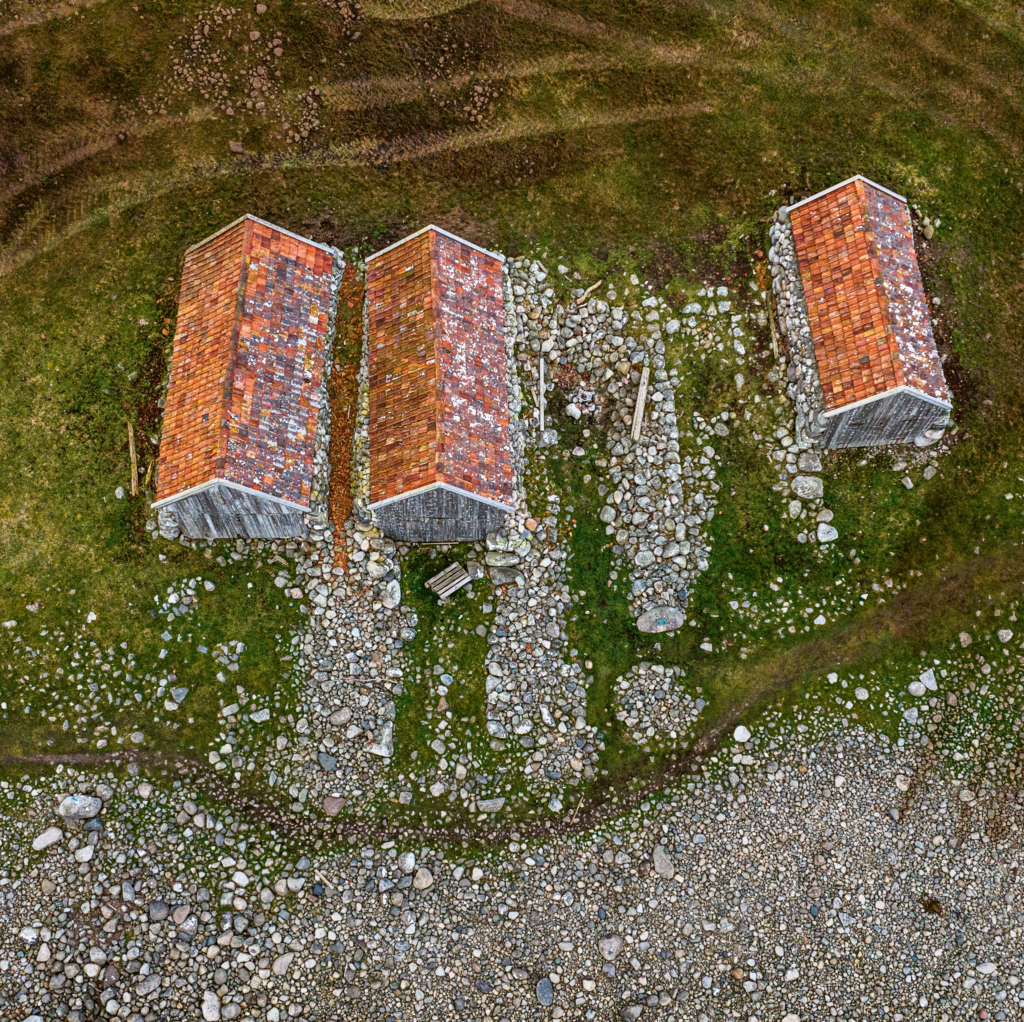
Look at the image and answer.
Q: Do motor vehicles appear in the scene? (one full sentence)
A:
No, there appears to be no motor vehicle in this shot.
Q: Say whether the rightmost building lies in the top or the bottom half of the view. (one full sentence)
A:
You can find the rightmost building in the top half.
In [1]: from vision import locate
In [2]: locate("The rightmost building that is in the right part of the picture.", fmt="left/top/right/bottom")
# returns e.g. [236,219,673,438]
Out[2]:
[768,172,960,461]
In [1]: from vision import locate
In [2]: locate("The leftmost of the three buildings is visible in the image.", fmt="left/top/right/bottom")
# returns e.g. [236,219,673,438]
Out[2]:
[145,211,344,553]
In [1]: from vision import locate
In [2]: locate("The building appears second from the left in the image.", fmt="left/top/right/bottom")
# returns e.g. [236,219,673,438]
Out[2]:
[355,221,529,551]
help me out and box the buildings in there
[768,172,960,461]
[145,211,344,553]
[355,221,529,551]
